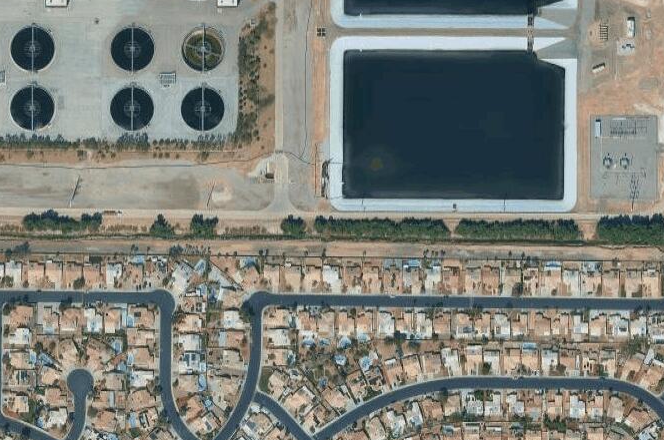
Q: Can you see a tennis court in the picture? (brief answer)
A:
No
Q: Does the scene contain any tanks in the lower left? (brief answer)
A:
No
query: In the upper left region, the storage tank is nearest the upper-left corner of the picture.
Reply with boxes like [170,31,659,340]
[10,23,55,72]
